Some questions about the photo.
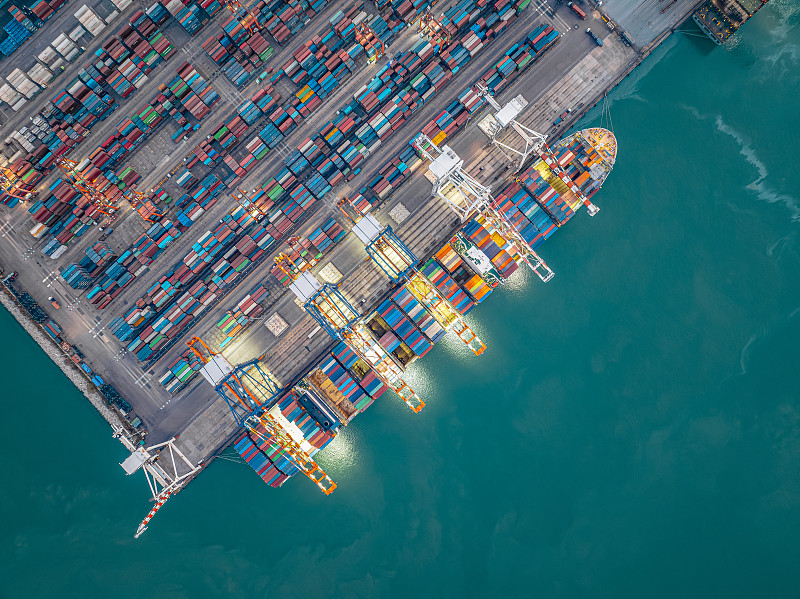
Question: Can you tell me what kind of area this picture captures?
port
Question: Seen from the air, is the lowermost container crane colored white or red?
white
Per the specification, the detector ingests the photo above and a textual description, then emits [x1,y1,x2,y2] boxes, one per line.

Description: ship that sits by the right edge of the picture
[689,0,766,47]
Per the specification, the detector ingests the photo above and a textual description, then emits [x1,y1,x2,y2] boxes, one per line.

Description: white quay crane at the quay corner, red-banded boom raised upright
[109,428,209,543]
